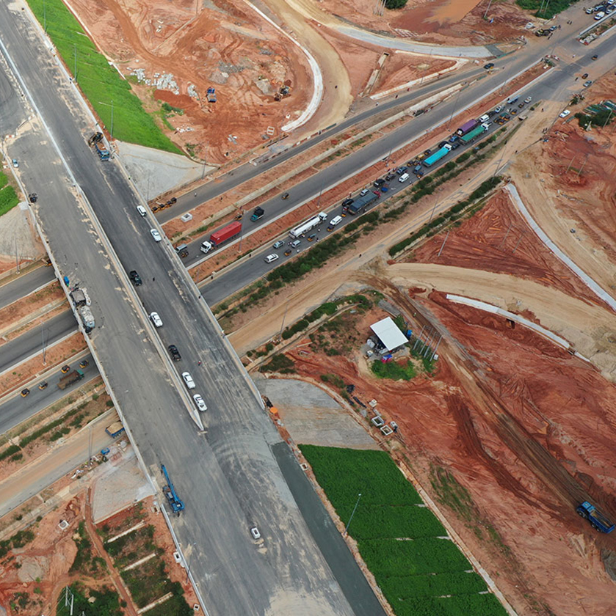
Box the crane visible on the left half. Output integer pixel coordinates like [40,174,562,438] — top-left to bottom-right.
[164,462,190,522]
